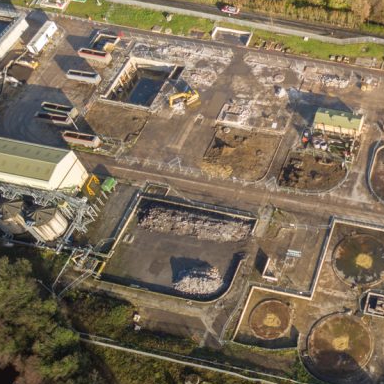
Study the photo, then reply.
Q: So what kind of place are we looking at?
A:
industrial area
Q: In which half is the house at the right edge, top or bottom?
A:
top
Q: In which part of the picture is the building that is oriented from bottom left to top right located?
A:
top left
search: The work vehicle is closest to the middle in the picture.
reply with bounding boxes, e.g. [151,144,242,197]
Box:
[166,90,202,109]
